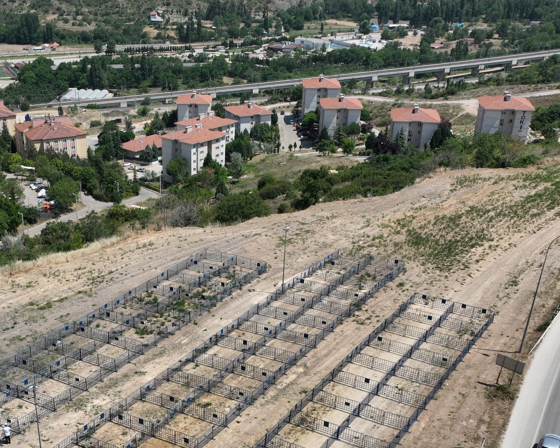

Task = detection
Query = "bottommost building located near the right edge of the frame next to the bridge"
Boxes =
[468,91,538,145]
